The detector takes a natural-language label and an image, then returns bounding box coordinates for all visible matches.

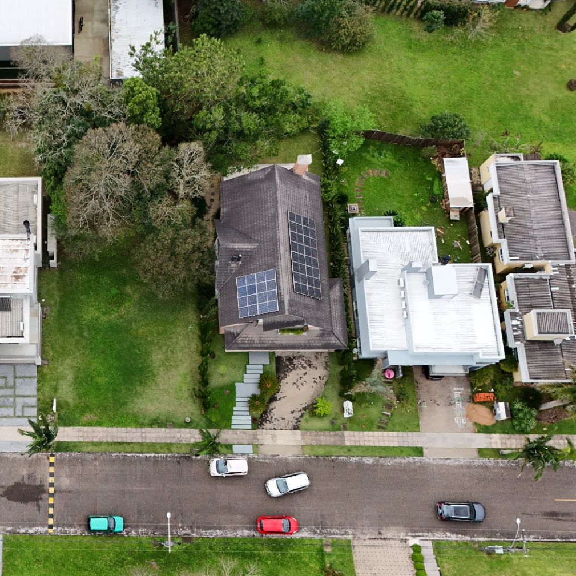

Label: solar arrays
[287,211,321,300]
[236,269,279,318]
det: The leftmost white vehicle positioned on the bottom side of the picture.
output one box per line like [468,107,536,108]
[208,457,247,478]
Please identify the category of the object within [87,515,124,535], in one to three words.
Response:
car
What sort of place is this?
residential area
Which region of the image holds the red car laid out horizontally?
bottom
